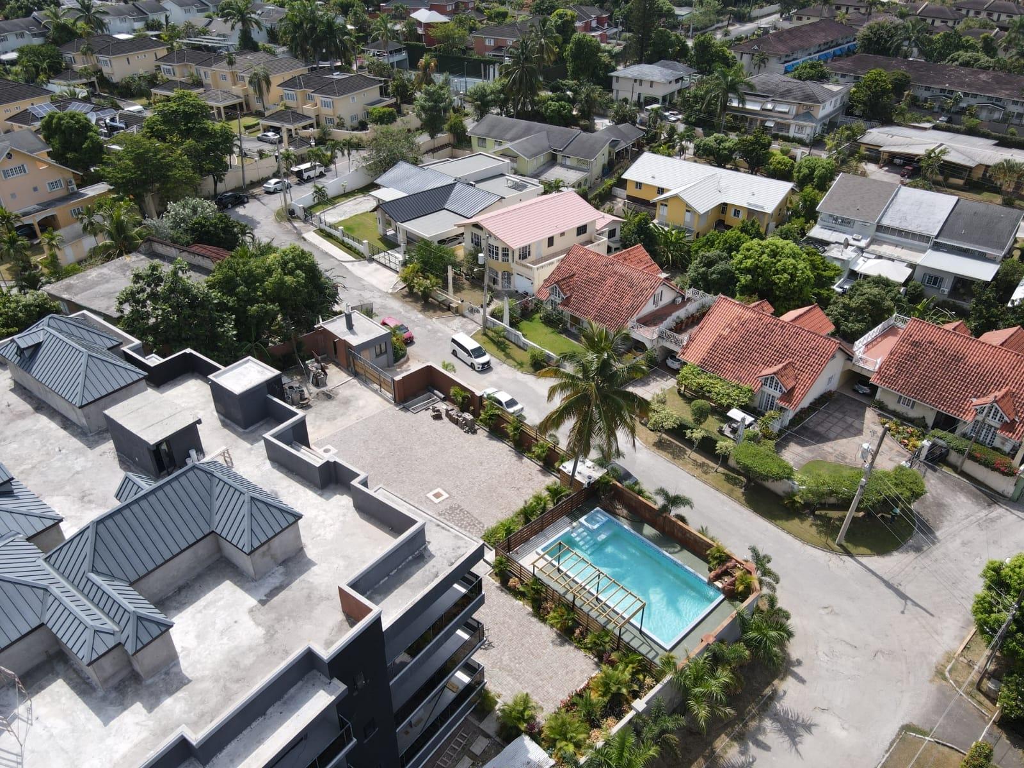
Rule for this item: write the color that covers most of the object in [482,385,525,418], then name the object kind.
white car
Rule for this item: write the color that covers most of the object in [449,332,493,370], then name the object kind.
white van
